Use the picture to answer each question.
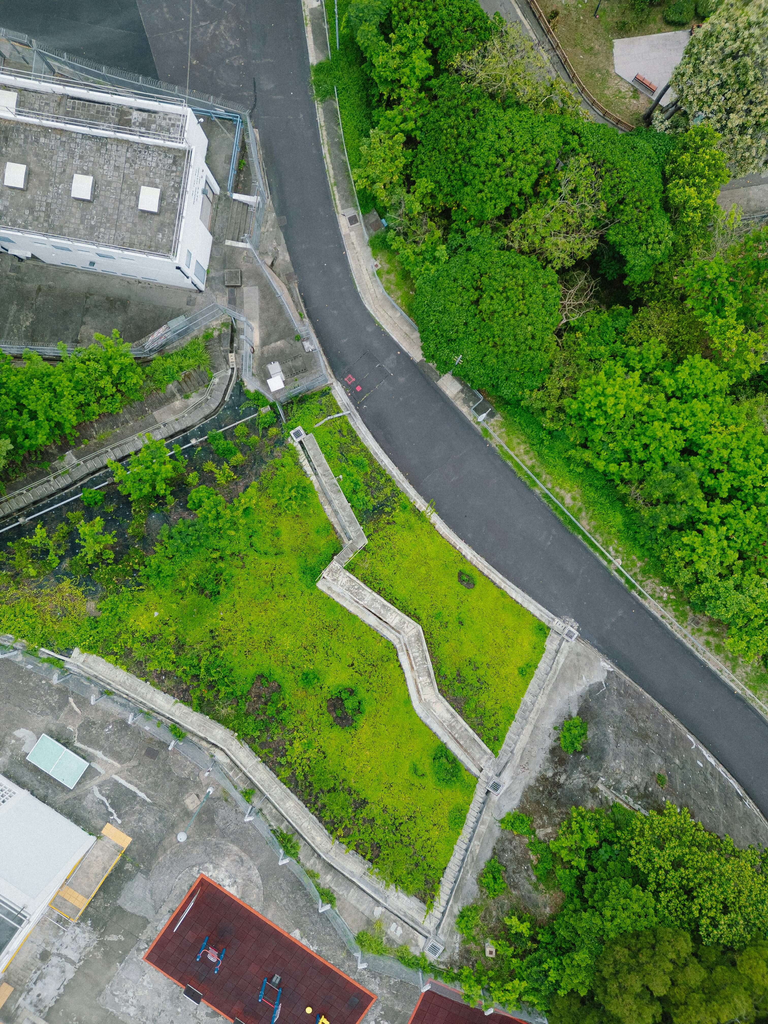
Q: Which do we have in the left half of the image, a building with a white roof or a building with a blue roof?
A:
building with a white roof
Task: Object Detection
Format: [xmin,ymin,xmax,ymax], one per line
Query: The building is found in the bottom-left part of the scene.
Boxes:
[0,768,101,958]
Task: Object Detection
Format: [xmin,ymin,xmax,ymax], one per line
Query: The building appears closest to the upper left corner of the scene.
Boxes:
[0,68,220,293]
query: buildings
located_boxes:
[0,68,220,293]
[0,768,101,958]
